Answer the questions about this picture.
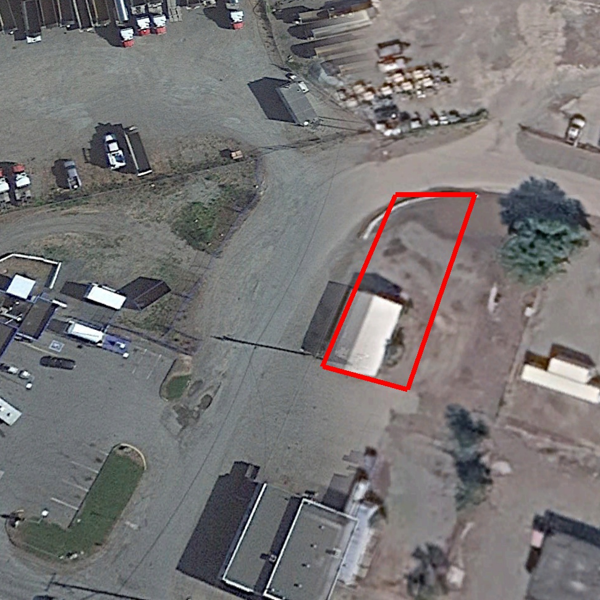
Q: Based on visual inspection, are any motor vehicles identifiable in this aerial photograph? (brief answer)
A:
Yes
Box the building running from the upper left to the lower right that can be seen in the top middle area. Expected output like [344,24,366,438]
[277,81,316,126]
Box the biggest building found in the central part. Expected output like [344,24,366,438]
[325,293,402,375]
